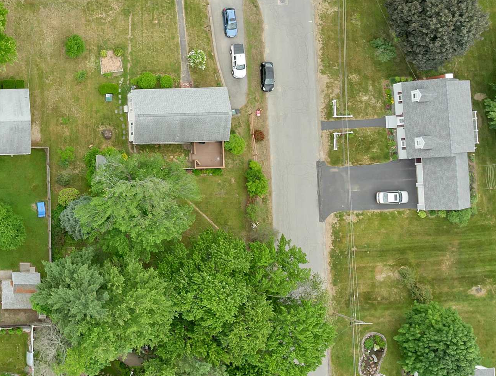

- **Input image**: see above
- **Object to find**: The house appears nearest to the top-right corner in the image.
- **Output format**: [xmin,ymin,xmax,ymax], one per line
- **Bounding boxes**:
[384,73,480,210]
